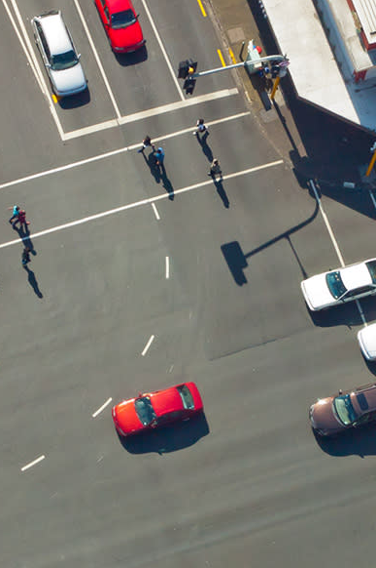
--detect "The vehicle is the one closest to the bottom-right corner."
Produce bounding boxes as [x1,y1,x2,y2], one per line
[305,376,376,432]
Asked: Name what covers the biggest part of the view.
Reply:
paved ground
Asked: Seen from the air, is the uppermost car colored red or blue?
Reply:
red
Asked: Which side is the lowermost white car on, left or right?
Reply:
right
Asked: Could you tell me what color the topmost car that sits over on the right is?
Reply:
white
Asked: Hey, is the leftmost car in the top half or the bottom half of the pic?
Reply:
top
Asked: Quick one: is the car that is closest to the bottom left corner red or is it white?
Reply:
red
